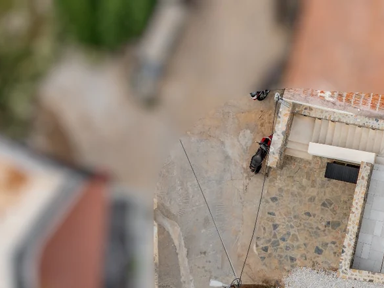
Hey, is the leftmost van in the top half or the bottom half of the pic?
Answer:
top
